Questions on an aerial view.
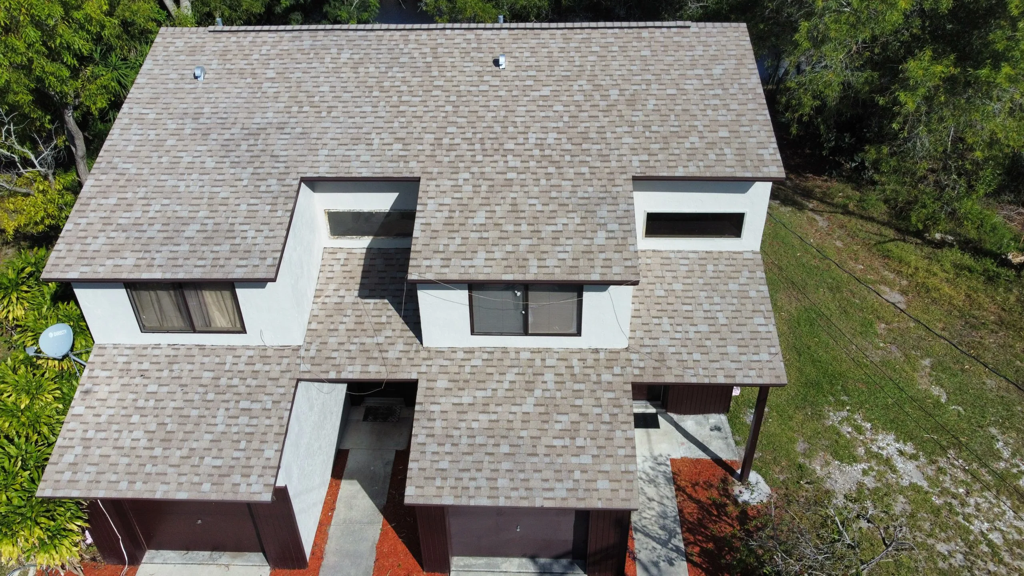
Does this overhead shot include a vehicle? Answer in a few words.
No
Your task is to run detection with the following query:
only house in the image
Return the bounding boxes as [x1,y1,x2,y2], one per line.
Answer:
[35,15,789,574]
